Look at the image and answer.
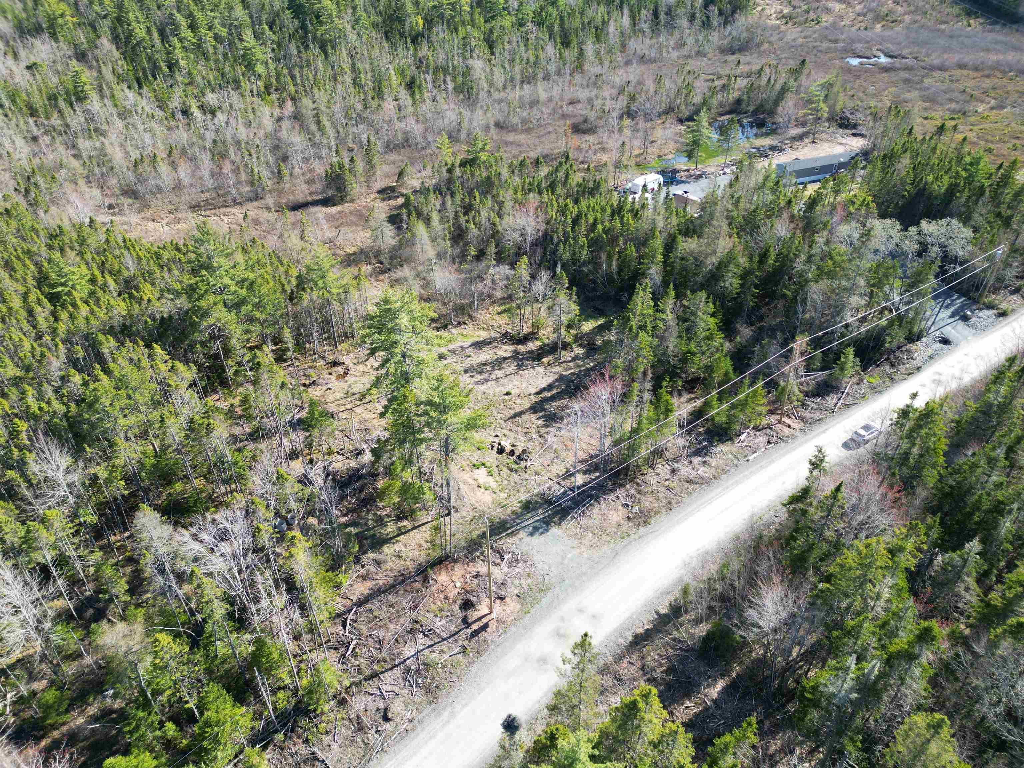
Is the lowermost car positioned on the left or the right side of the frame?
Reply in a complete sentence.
The lowermost car appears in the right half of the scene.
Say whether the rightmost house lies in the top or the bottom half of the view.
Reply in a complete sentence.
It is in the top half that the rightmost house appears.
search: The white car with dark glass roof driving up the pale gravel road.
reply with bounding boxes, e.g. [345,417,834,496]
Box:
[849,414,888,441]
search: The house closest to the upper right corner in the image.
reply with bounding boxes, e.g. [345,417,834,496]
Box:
[768,149,866,187]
